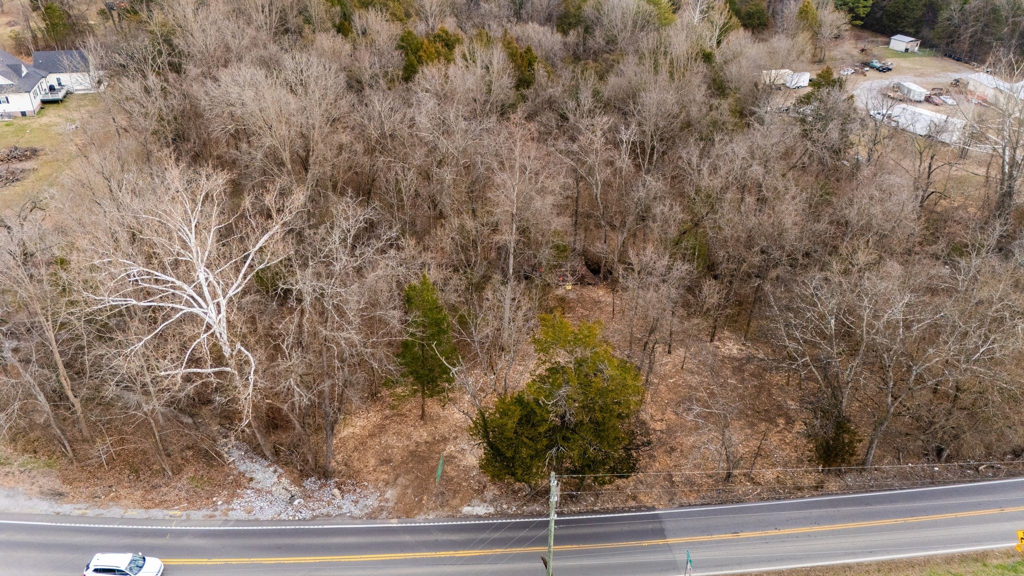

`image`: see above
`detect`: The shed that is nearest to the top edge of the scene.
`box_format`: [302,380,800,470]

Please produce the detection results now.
[889,30,930,53]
